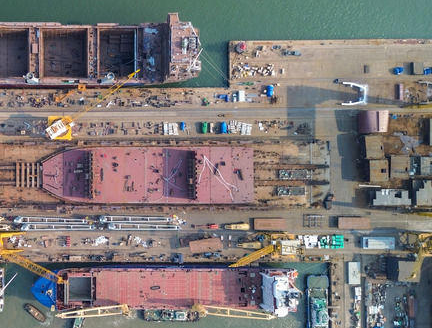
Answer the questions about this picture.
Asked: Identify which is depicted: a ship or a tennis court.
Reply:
ship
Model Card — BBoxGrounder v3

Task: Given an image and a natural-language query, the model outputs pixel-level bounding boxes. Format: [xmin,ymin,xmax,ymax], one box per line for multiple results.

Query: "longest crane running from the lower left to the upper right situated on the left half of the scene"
[43,69,141,141]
